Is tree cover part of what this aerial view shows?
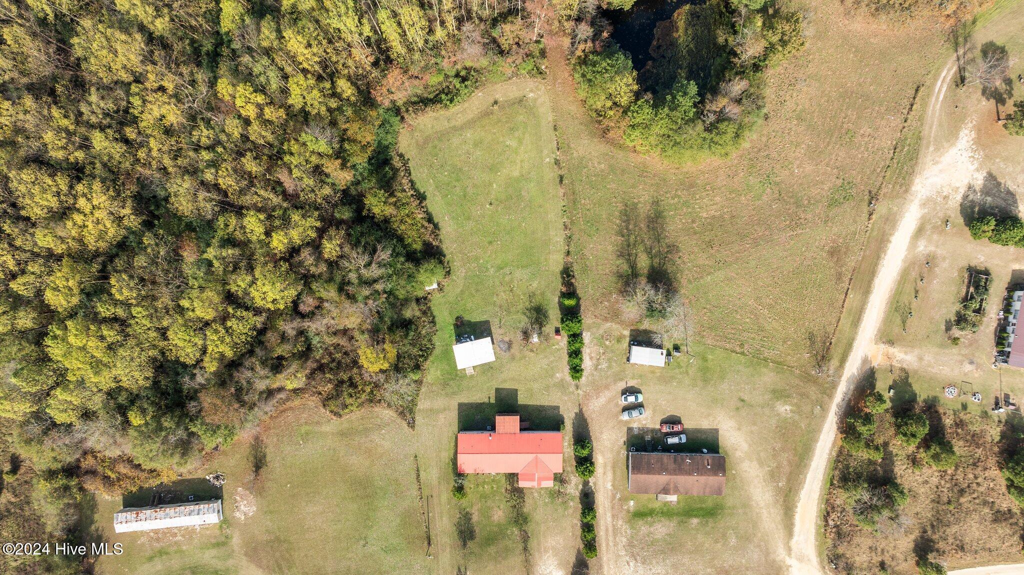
Yes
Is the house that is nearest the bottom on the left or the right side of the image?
left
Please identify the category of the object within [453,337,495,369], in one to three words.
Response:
shed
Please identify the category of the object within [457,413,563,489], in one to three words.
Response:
house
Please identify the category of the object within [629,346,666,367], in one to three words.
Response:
shed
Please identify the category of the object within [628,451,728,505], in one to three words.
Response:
house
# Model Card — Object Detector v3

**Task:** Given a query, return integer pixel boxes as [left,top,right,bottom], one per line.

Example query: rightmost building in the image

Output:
[994,298,1024,371]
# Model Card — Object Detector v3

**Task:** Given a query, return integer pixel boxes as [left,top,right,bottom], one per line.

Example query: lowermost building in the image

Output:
[114,500,224,533]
